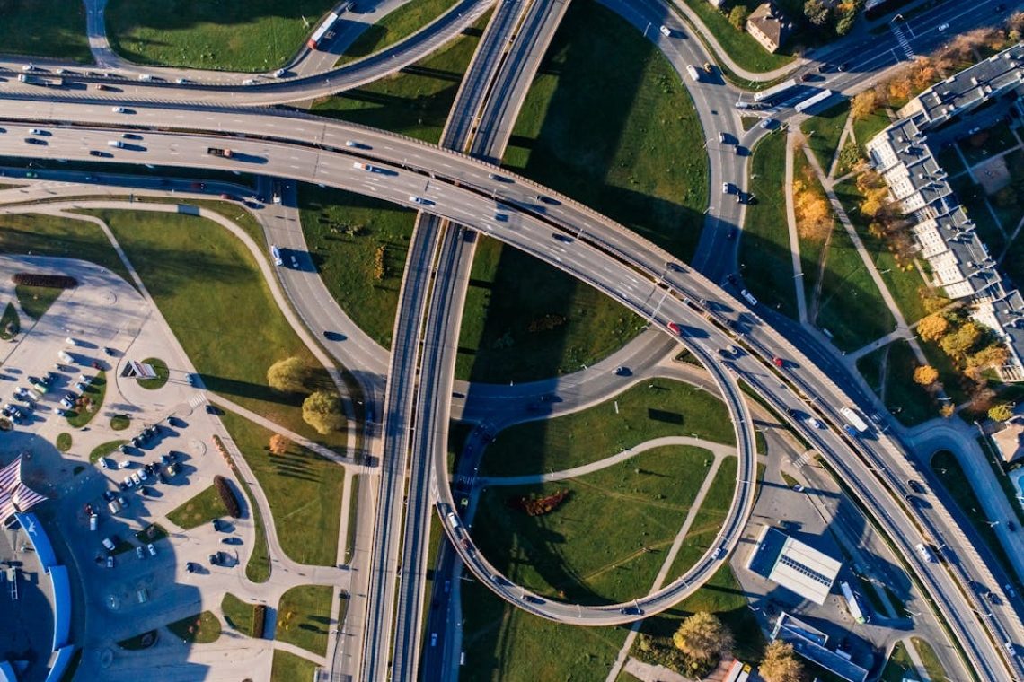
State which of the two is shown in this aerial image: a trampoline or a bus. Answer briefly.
bus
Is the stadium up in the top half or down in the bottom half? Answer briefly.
bottom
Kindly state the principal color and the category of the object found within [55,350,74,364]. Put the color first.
white vehicle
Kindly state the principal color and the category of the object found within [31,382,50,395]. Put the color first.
white vehicle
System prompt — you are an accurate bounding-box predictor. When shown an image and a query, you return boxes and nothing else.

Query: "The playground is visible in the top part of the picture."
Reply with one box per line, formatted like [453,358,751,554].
[973,156,1011,195]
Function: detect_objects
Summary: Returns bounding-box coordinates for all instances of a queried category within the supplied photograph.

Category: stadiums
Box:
[0,488,78,682]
